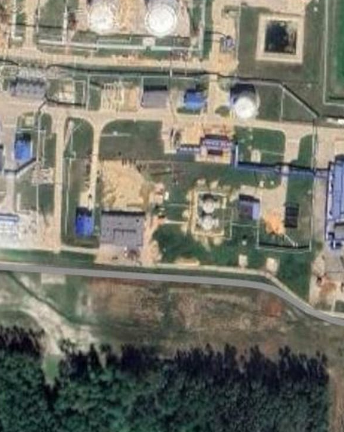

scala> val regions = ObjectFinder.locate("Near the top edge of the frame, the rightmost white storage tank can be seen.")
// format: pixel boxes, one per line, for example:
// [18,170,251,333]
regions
[145,0,180,37]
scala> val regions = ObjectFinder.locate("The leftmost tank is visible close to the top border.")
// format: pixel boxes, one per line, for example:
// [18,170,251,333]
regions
[85,0,122,32]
